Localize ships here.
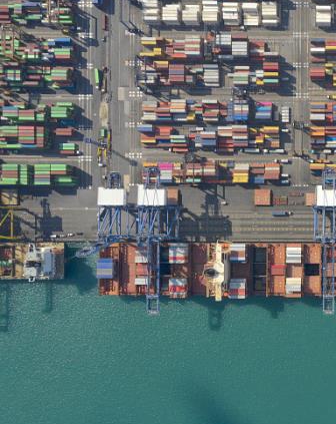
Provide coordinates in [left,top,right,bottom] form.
[0,242,70,282]
[98,237,336,302]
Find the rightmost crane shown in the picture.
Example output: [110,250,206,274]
[313,169,336,313]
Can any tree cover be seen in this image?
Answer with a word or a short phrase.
No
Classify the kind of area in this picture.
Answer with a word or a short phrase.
port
